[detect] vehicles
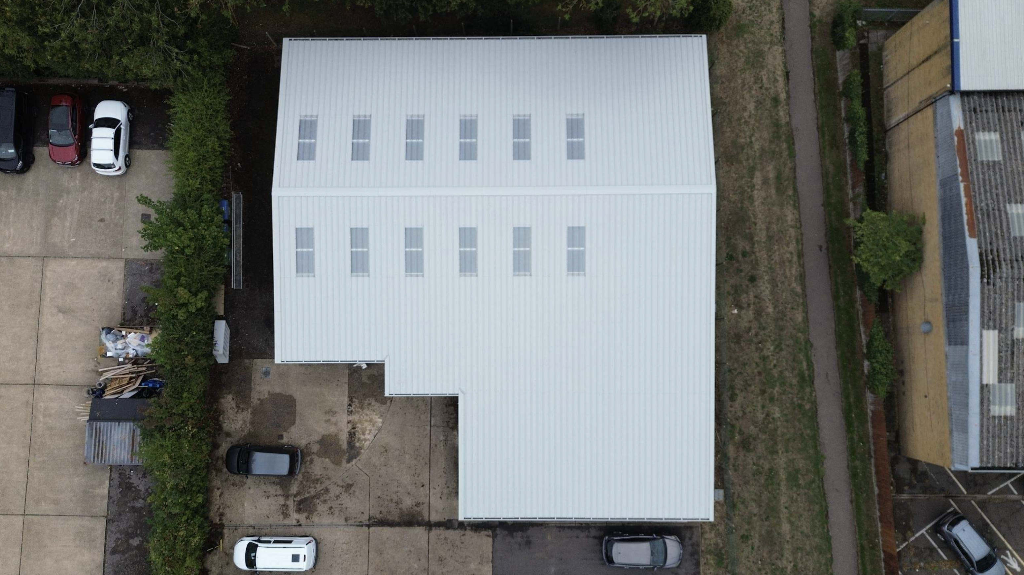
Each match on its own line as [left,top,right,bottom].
[933,504,1005,575]
[0,88,35,173]
[226,442,303,482]
[88,103,134,176]
[601,532,682,575]
[235,533,320,575]
[42,95,87,164]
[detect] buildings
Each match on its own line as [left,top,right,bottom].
[84,397,182,465]
[271,34,716,520]
[887,95,1024,474]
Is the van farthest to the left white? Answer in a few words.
No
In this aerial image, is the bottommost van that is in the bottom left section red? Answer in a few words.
No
